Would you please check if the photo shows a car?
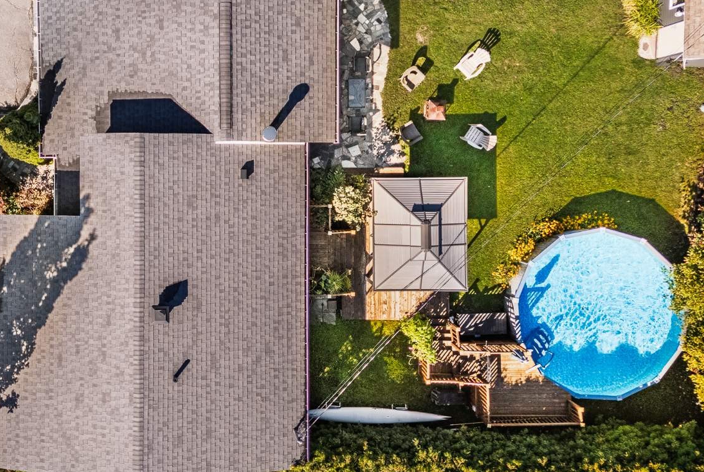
No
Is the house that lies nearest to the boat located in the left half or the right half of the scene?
left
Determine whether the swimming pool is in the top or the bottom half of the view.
bottom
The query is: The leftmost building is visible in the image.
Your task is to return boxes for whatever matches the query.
[0,0,343,472]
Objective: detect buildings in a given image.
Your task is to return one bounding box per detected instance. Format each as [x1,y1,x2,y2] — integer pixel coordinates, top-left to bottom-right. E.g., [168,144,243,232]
[0,0,343,472]
[654,0,704,67]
